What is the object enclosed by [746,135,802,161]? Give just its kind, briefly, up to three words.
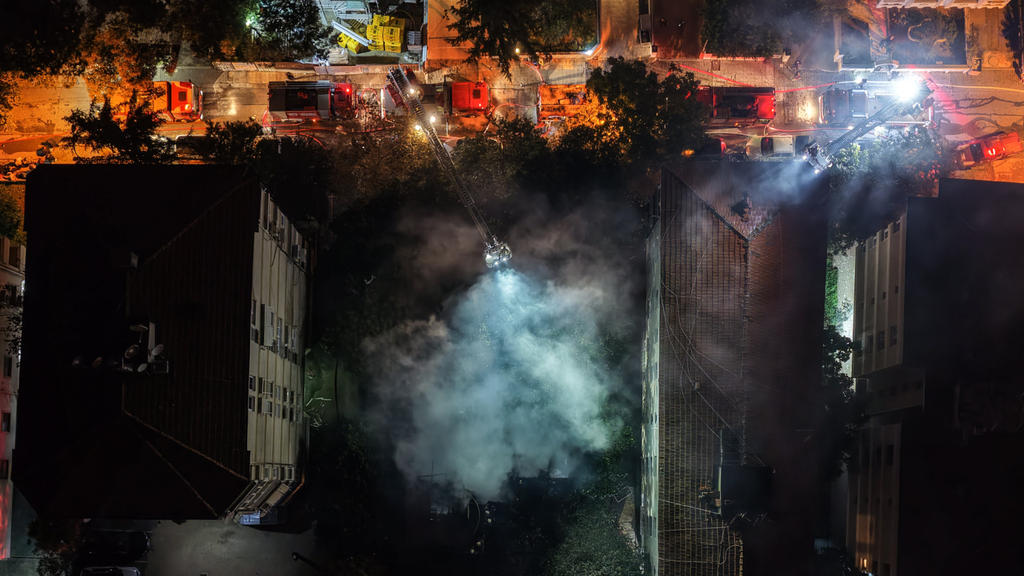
car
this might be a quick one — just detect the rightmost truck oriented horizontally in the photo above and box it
[952,132,1022,170]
